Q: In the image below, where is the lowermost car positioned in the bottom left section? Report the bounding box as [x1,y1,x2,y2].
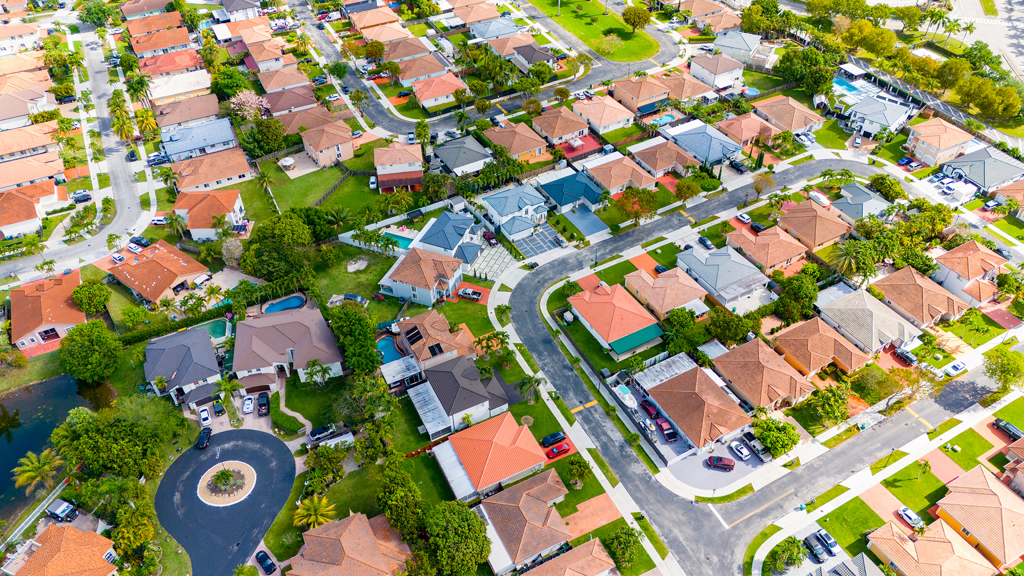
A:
[254,549,278,576]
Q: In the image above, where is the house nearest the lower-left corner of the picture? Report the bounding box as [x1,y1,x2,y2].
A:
[10,522,118,576]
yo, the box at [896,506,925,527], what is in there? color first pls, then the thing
white car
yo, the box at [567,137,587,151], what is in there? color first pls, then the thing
white gazebo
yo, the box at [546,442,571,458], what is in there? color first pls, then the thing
red car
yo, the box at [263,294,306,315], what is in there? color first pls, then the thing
blue swimming pool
